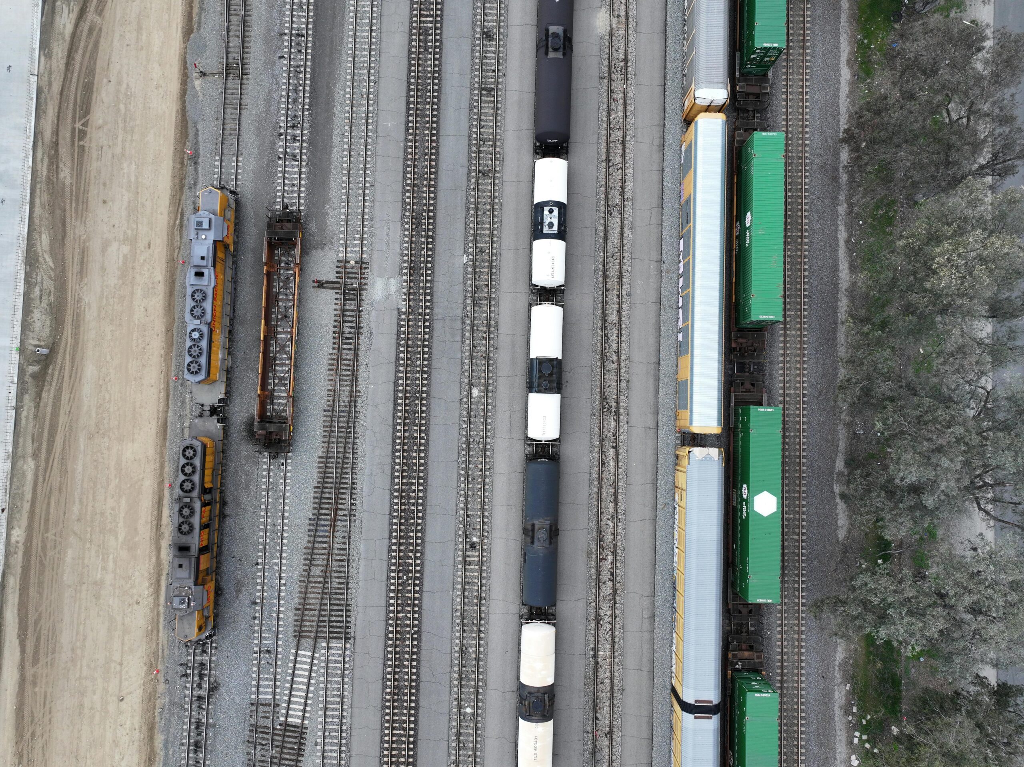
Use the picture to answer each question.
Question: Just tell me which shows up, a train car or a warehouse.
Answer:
train car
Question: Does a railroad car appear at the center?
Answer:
Yes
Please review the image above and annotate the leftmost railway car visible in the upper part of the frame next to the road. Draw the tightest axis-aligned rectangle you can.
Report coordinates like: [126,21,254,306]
[183,183,241,410]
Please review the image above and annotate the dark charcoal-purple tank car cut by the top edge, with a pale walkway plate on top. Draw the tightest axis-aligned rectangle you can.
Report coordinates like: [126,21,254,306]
[534,0,573,158]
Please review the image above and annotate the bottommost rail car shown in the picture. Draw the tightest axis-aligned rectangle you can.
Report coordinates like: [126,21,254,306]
[517,608,557,767]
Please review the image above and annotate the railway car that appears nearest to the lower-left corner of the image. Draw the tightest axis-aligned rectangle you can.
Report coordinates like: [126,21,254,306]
[165,412,229,648]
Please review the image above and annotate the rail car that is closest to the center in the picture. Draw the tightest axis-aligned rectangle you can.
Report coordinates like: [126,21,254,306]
[525,297,565,451]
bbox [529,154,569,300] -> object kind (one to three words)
rail car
